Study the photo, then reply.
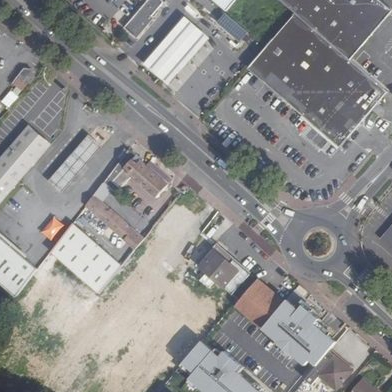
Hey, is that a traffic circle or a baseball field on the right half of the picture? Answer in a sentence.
Looking on the right half of the picture, you will find a traffic circle.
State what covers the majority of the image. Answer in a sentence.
The largest share of the image is taken up by paved ground.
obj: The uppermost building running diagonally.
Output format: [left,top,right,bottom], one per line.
[124,0,164,40]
